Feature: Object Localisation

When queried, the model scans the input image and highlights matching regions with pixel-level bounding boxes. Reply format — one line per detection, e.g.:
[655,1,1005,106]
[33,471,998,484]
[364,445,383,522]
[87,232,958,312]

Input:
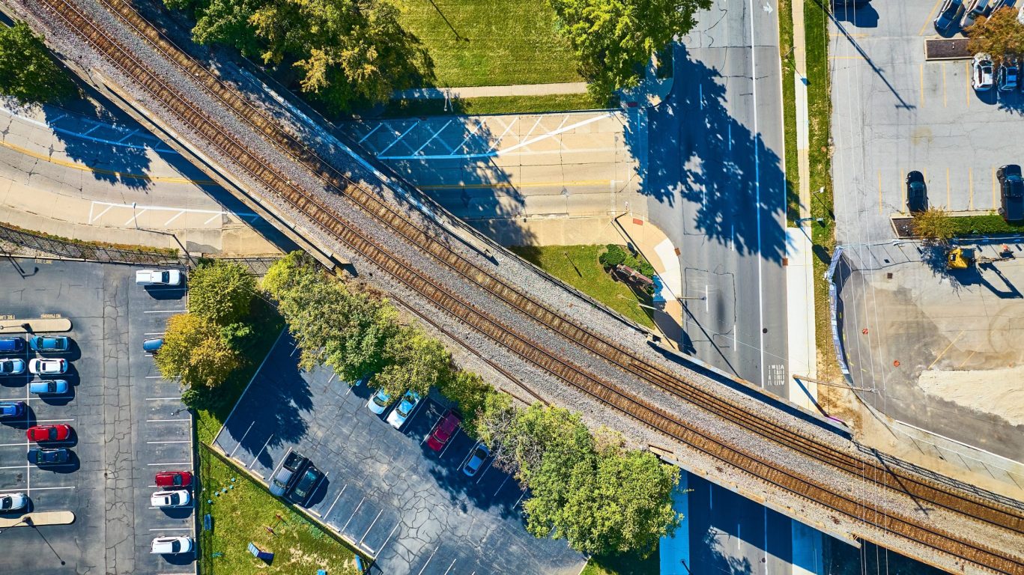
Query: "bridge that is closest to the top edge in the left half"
[94,47,517,271]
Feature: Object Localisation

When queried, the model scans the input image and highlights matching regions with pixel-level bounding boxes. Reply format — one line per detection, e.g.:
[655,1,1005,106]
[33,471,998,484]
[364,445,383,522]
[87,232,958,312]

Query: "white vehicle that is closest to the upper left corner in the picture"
[135,268,184,287]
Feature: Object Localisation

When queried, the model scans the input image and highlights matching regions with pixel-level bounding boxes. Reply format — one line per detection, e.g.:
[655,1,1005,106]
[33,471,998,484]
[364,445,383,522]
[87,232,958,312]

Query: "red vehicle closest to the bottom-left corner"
[29,424,71,442]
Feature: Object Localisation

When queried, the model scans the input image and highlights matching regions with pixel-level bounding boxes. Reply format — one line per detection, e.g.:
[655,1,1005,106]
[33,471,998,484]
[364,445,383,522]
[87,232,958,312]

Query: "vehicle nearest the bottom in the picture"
[151,535,193,556]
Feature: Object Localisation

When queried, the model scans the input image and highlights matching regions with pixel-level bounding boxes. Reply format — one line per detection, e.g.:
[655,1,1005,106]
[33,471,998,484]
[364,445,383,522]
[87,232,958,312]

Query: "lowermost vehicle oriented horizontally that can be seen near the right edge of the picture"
[947,248,1012,269]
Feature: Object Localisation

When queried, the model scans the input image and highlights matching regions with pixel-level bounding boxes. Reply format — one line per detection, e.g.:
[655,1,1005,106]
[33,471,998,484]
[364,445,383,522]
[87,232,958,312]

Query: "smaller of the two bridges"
[645,333,862,547]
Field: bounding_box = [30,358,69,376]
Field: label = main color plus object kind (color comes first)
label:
white car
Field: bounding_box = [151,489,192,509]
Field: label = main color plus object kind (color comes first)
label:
white car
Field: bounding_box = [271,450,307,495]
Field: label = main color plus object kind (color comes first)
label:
blue truck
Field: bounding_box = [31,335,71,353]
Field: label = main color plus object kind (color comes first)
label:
blue car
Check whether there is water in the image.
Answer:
No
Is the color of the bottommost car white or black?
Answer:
white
